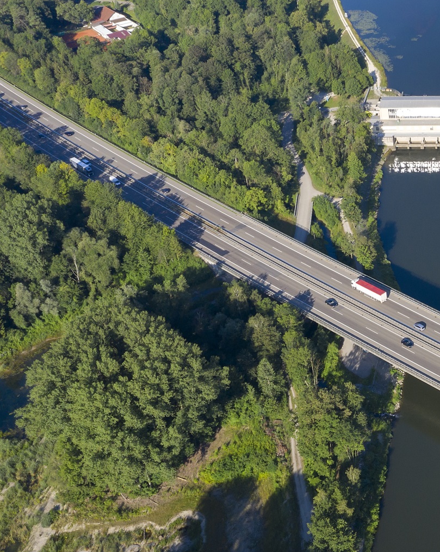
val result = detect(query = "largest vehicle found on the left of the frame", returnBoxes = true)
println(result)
[70,157,93,176]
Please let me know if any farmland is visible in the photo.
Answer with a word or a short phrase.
No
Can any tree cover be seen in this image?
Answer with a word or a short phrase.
Yes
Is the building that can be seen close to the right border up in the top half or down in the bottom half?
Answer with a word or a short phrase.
top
